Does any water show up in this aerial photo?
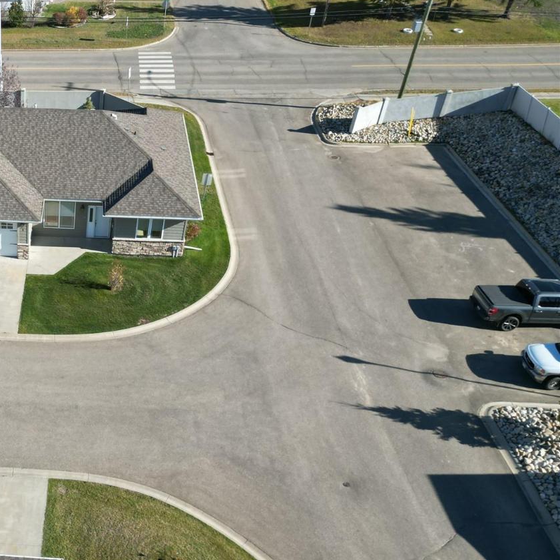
No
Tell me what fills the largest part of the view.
paved ground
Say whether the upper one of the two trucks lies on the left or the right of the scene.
right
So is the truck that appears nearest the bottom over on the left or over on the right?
right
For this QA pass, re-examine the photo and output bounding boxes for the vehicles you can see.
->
[468,274,560,329]
[517,336,560,390]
